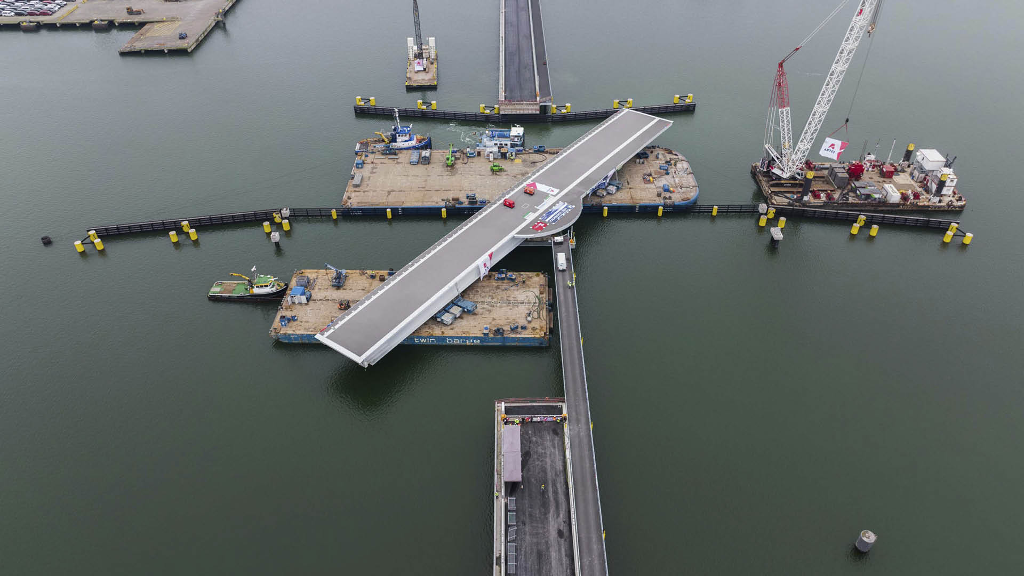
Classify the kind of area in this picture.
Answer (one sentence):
The area seen from above is a port.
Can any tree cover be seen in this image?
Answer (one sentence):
No, there is no tree cover in the image.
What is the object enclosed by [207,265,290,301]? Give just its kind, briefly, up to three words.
boat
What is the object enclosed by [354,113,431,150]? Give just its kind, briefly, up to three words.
boat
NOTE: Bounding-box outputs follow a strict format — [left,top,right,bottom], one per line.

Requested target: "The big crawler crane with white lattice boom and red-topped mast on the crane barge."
[752,0,887,187]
